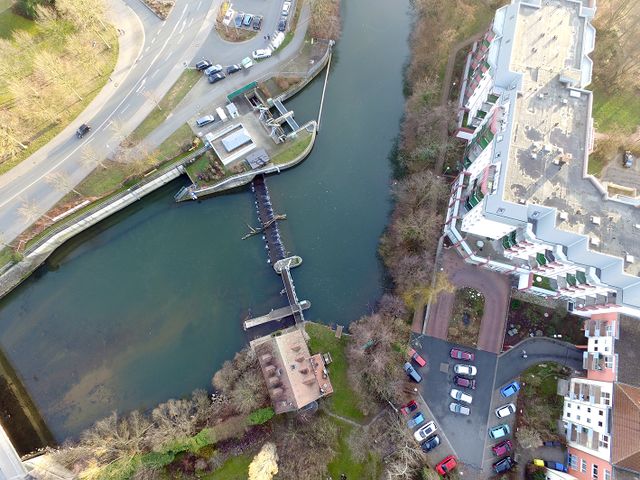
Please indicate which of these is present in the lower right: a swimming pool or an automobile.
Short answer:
automobile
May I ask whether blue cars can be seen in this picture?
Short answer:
Yes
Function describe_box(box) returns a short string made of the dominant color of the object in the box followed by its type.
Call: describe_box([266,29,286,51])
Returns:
white vehicle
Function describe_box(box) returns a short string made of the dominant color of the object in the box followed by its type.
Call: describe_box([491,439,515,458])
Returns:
purple car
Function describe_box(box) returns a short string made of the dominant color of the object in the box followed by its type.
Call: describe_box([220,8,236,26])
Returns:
white car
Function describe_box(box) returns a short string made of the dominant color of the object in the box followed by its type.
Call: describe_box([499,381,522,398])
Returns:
blue car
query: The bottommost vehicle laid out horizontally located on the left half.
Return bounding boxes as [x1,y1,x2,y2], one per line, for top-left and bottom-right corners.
[194,114,216,127]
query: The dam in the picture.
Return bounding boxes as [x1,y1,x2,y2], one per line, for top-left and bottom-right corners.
[254,178,286,265]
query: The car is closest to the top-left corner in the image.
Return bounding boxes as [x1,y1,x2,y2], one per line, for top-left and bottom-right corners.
[73,122,93,138]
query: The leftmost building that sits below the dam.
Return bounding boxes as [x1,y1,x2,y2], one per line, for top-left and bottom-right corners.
[254,329,334,416]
